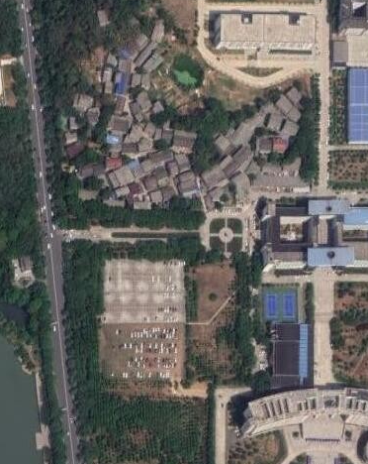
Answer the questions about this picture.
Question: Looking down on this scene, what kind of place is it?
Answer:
residential area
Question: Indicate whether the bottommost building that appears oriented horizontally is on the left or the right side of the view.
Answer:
right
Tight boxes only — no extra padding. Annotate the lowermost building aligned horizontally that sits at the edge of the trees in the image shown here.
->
[238,387,368,442]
